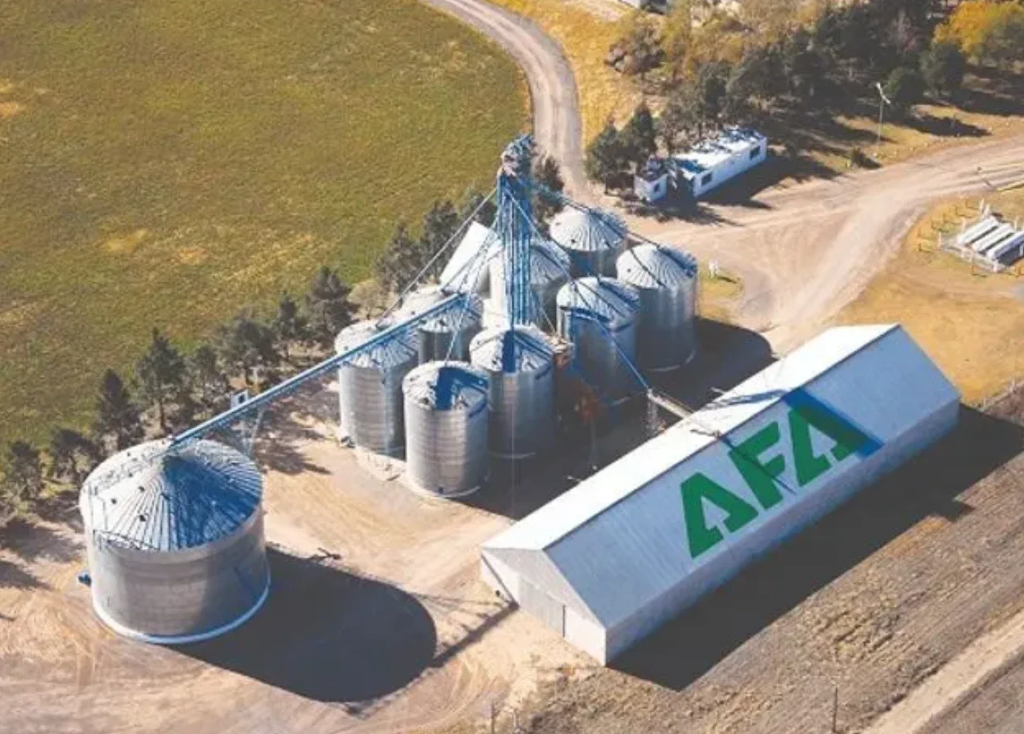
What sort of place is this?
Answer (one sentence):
This image shows an industrial area.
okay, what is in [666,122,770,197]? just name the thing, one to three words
house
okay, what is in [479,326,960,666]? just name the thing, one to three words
barn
